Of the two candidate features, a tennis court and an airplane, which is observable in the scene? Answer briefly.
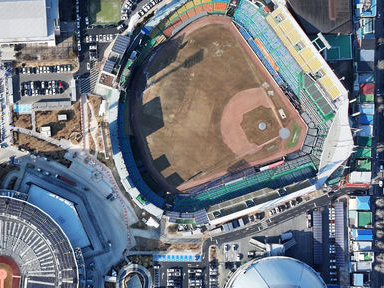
tennis court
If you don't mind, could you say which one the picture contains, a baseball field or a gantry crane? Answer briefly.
baseball field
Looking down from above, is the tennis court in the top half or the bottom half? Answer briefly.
top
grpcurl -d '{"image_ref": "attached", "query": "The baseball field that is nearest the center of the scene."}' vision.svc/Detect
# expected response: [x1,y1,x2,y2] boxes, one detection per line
[131,15,309,196]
